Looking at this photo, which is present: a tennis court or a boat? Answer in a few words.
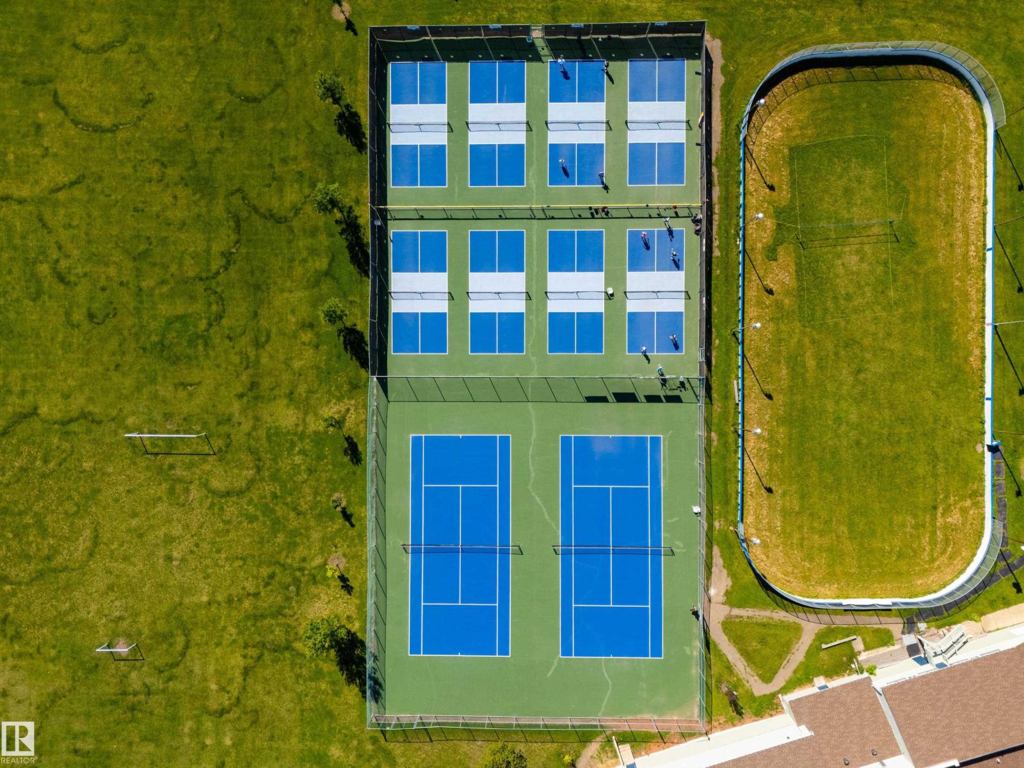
tennis court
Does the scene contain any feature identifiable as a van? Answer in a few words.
No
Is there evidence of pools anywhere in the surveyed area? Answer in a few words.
No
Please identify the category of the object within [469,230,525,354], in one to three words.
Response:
sports court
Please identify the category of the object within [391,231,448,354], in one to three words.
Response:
sports court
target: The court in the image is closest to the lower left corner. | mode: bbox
[409,435,511,656]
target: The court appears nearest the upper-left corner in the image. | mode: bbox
[391,62,447,187]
